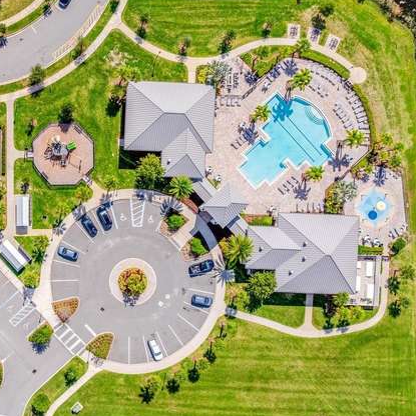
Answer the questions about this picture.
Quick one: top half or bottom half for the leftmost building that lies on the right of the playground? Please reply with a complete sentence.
Seen from above, the leftmost building that lies on the right of the playground lies in the top half of the view.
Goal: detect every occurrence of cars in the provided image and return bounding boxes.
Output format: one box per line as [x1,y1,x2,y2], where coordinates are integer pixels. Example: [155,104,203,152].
[57,247,80,260]
[59,0,70,6]
[97,204,113,229]
[80,214,98,236]
[147,338,162,360]
[190,296,212,307]
[187,260,213,276]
